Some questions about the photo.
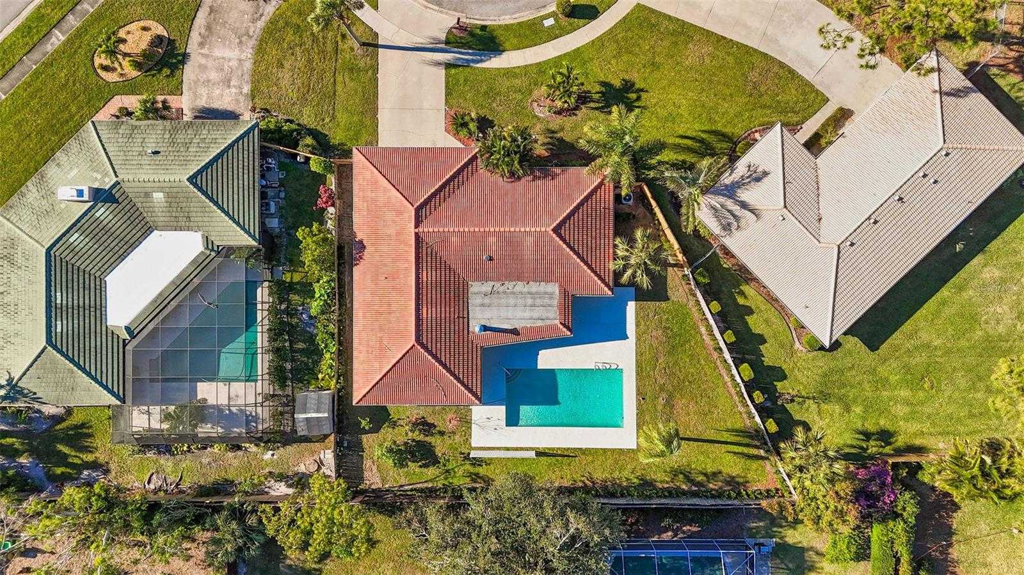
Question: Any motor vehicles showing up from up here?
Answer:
No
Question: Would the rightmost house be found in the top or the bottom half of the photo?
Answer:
top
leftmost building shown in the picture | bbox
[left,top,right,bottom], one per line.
[0,118,264,406]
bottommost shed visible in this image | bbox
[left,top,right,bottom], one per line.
[289,391,334,436]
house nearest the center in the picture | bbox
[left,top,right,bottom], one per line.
[352,145,616,407]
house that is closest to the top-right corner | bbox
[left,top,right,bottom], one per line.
[697,49,1024,349]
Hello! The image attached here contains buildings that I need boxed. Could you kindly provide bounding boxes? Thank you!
[289,391,334,436]
[697,49,1024,349]
[0,118,264,406]
[352,145,616,407]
